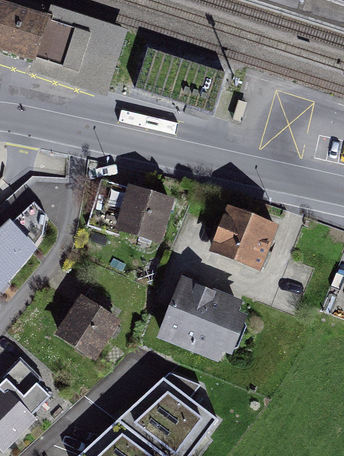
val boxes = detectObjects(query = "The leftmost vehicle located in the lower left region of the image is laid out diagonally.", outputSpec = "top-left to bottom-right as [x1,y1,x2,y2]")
[0,334,18,354]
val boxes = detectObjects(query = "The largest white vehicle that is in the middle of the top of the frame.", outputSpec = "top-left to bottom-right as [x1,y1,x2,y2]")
[118,108,180,138]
